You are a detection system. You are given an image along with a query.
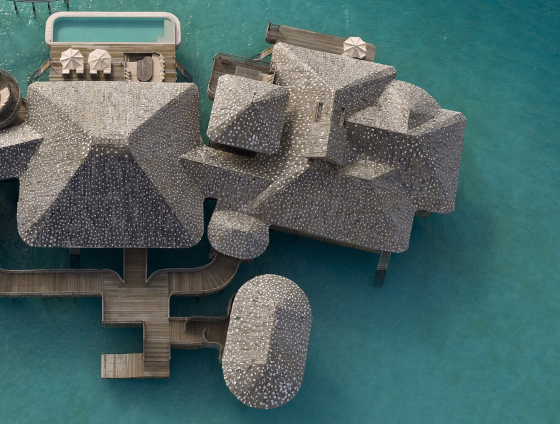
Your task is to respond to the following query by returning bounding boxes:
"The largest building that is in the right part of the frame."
[244,42,468,254]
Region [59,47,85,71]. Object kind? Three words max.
umbrella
